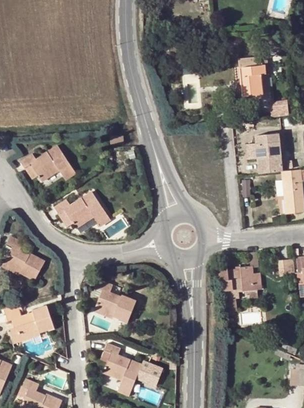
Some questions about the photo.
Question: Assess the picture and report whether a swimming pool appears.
Yes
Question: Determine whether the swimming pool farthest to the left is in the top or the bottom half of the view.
bottom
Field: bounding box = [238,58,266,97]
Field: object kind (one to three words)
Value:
house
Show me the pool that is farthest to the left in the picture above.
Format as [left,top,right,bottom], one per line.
[22,336,54,358]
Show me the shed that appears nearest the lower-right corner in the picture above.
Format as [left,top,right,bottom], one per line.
[290,365,304,388]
